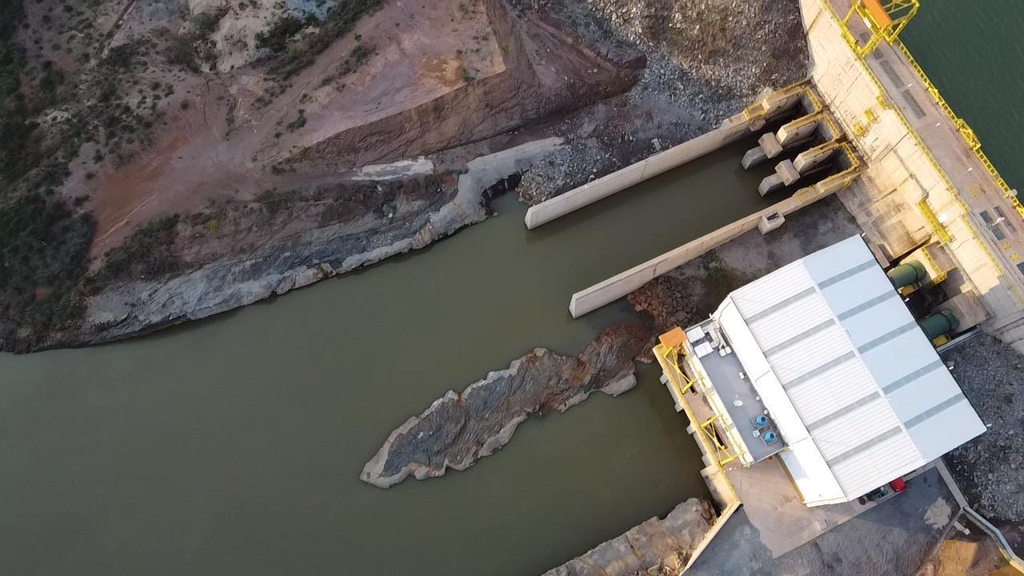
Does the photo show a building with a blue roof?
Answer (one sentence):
No, the frame has no building with a blue roof in it.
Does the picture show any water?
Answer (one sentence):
Yes, the picture does contain water.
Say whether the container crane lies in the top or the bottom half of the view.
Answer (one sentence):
You can find the container crane in the top half.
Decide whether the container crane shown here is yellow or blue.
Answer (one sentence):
In this view, the container crane is yellow.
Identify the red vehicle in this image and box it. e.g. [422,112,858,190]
[889,478,905,494]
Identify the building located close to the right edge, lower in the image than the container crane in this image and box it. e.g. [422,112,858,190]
[715,233,987,506]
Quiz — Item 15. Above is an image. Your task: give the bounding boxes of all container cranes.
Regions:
[841,0,924,58]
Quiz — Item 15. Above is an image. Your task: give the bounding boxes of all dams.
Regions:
[731,0,1024,438]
